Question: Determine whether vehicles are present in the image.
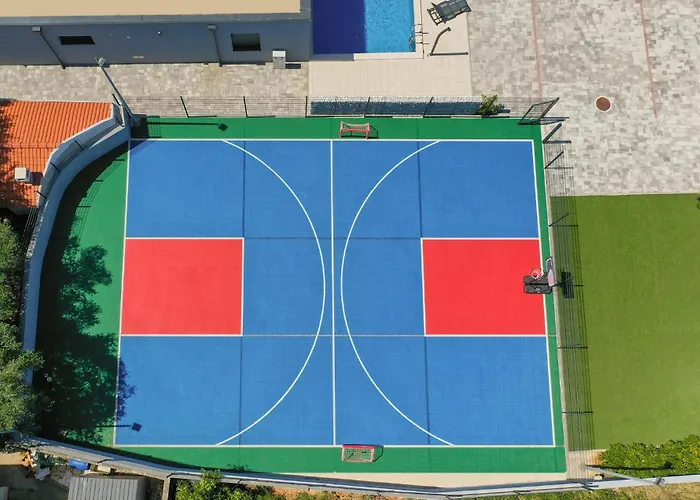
No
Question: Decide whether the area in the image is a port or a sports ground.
sports ground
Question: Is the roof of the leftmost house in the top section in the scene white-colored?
No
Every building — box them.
[0,100,110,209]
[66,473,152,500]
[0,0,311,68]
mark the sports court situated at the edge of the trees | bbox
[33,118,565,473]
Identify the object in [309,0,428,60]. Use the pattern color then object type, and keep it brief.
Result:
blue swimming pool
